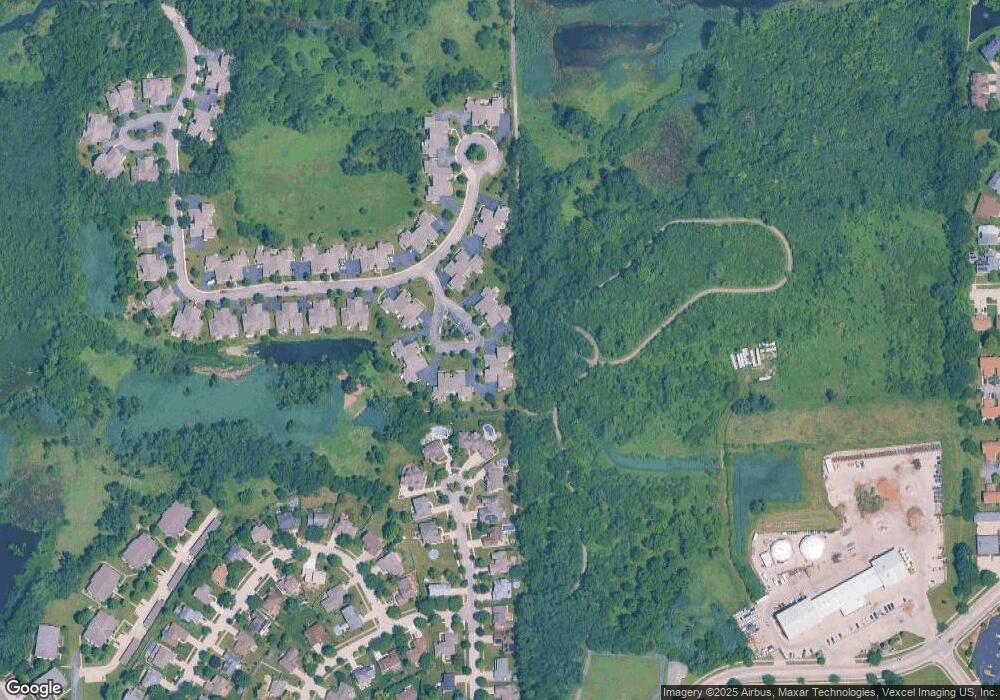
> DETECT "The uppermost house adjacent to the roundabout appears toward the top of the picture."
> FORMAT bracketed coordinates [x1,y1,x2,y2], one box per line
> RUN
[467,95,504,124]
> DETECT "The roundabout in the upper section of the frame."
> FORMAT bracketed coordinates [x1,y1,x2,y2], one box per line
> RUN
[454,129,500,174]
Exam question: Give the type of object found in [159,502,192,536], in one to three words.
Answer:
building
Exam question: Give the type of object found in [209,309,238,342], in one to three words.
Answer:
house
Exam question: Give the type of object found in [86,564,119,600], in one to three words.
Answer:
building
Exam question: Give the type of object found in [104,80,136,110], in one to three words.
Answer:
house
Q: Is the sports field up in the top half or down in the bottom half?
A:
bottom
